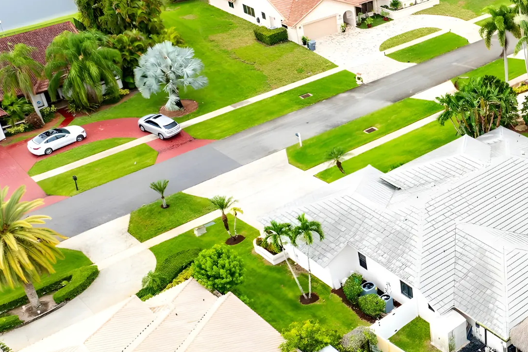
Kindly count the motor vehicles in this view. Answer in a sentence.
Altogether the scene contains 2 motor vehicles.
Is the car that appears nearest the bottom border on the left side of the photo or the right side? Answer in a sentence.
It is on the left.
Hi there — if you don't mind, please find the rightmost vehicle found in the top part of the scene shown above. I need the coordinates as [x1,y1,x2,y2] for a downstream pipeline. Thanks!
[137,112,180,137]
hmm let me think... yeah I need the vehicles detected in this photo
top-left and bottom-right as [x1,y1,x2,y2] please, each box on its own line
[137,112,180,137]
[24,128,84,153]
